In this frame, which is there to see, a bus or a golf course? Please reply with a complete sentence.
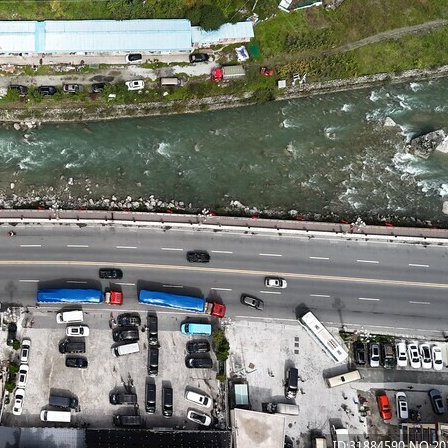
Of the two, only a bus appears.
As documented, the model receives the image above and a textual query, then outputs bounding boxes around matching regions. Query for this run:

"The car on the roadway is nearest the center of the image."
[187,250,210,262]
